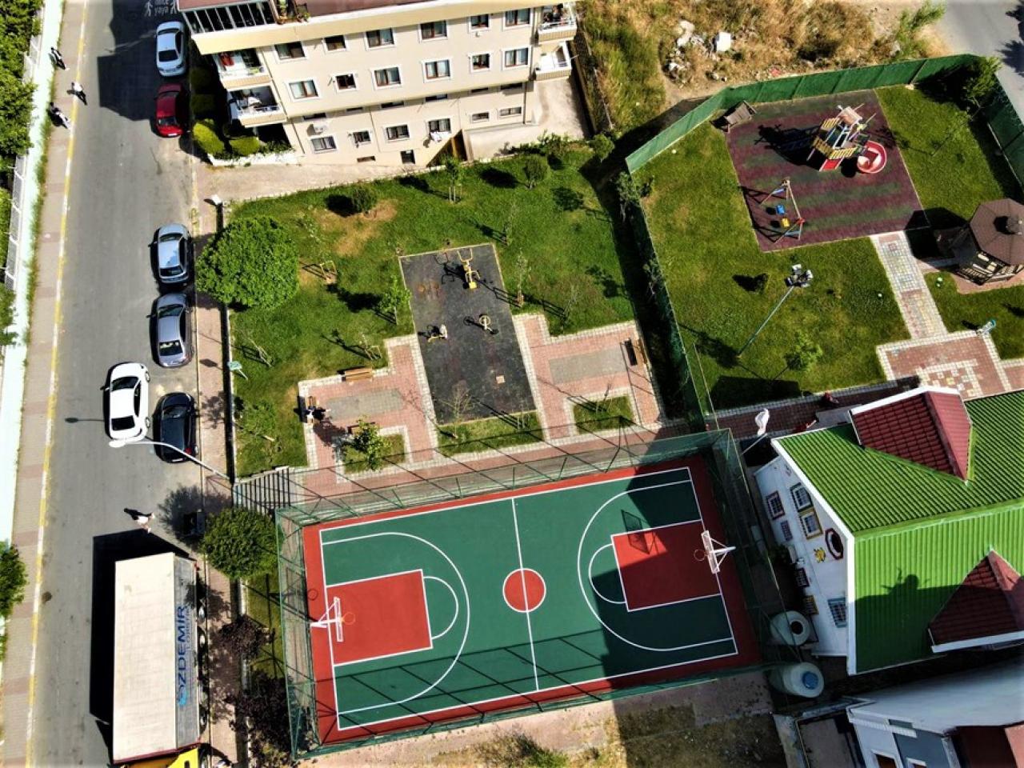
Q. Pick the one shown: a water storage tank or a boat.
water storage tank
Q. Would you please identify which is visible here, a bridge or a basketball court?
basketball court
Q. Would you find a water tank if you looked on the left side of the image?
No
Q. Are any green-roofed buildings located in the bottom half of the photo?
Yes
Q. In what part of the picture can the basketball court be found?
bottom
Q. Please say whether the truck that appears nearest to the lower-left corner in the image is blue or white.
white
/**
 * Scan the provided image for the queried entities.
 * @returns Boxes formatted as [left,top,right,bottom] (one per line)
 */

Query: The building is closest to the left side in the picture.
[173,0,583,166]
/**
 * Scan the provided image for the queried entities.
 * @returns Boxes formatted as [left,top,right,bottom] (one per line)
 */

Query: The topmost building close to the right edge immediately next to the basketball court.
[754,388,1024,676]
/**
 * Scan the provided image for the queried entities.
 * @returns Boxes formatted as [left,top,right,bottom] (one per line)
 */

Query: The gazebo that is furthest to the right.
[946,202,1024,289]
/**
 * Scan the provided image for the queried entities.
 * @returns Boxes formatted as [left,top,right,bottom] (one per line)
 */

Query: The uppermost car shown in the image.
[153,23,189,81]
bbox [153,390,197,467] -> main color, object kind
black car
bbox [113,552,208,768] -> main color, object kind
white truck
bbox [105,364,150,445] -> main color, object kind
white car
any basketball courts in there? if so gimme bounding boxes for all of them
[303,455,760,745]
